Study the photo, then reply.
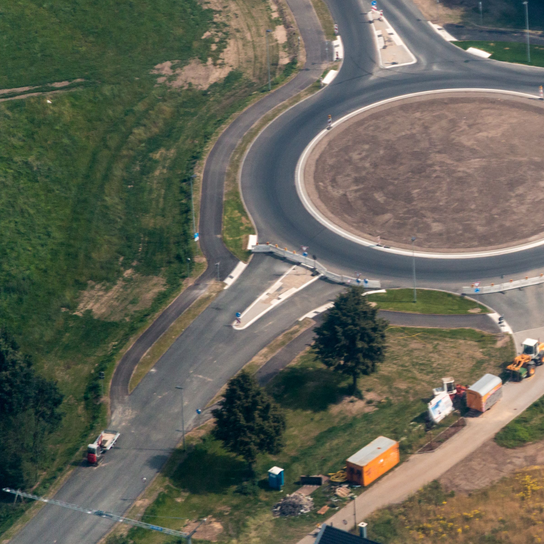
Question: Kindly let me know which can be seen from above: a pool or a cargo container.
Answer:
cargo container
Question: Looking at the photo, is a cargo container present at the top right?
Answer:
No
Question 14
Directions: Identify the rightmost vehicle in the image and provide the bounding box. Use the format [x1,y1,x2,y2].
[502,334,544,387]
